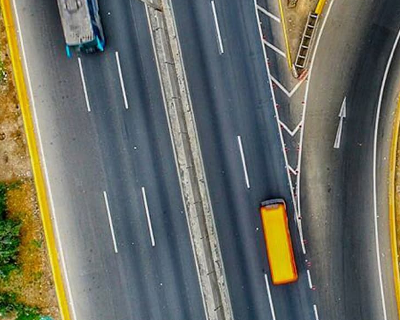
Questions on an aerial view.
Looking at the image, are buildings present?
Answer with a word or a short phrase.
No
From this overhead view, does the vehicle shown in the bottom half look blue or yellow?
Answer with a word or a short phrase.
yellow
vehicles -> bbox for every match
[57,0,107,51]
[260,196,297,283]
